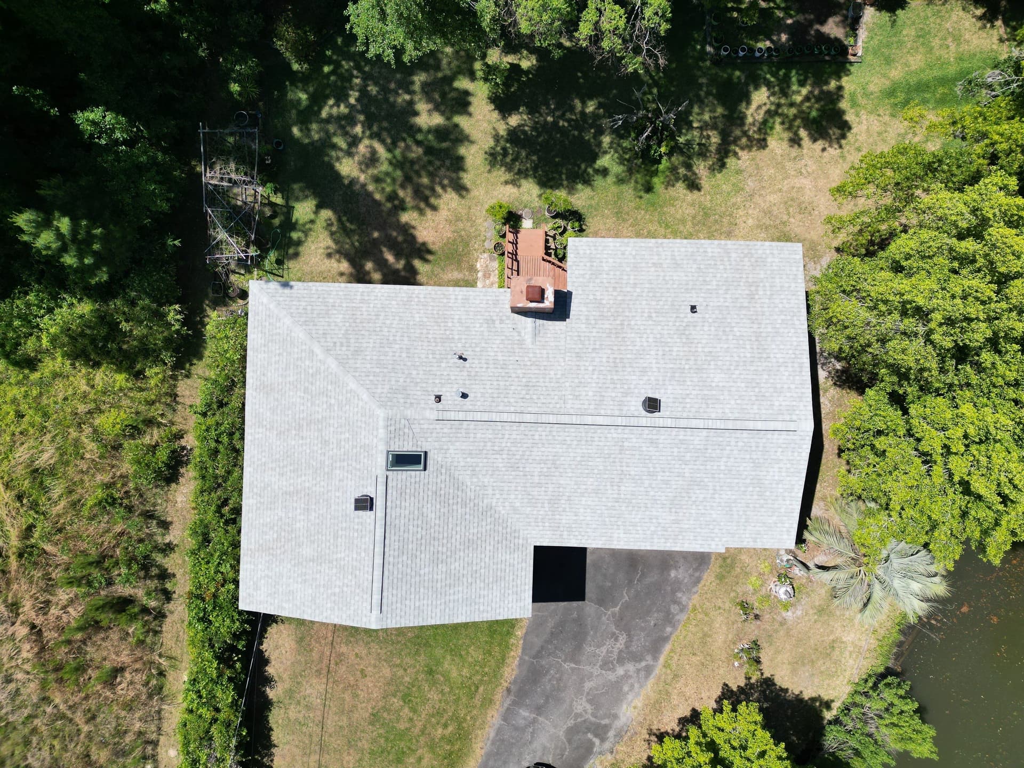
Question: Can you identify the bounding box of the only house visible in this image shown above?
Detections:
[240,237,815,629]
